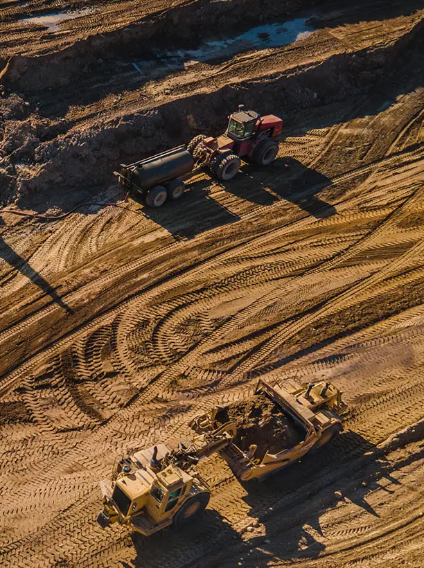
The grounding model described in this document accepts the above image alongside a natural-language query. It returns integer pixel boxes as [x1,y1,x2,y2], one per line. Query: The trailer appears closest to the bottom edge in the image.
[110,144,198,203]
